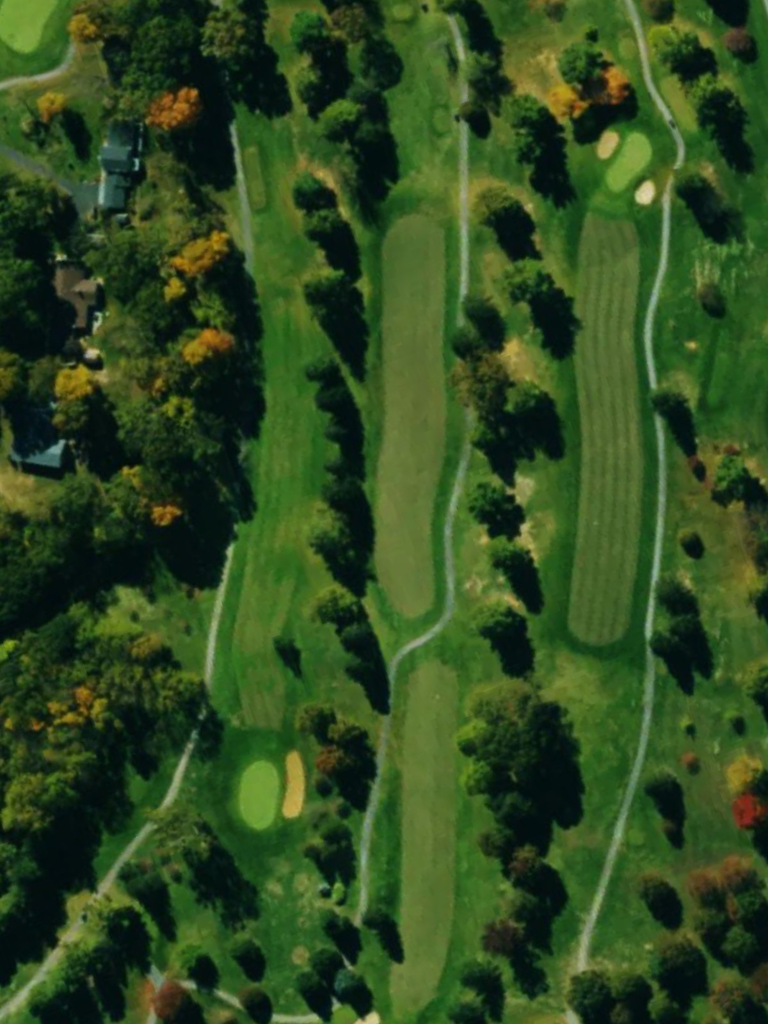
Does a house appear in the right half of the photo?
No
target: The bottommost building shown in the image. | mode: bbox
[11,406,69,471]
